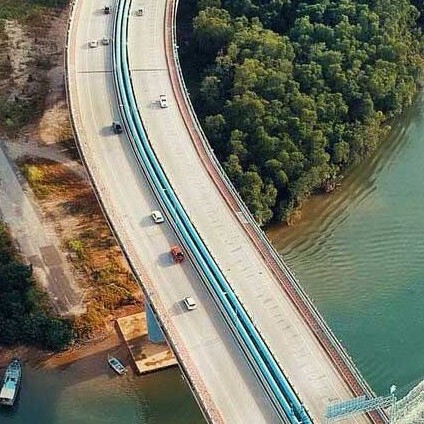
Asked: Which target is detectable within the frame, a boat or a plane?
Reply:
boat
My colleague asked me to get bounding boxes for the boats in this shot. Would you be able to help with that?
[1,356,19,406]
[110,351,127,375]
